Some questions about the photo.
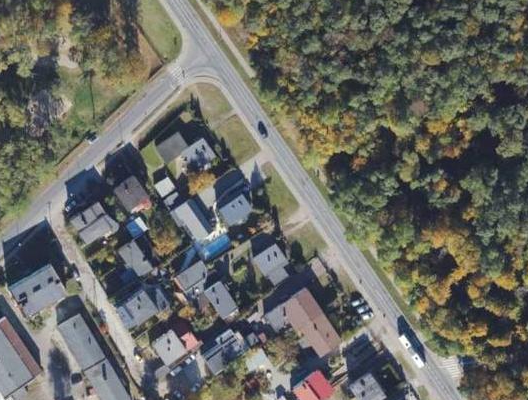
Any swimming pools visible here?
Yes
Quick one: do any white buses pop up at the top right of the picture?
No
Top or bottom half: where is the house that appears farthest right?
bottom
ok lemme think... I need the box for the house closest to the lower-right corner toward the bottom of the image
[348,374,387,400]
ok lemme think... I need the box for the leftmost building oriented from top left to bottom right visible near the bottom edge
[59,314,130,400]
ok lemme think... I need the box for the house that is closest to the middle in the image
[219,195,253,227]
